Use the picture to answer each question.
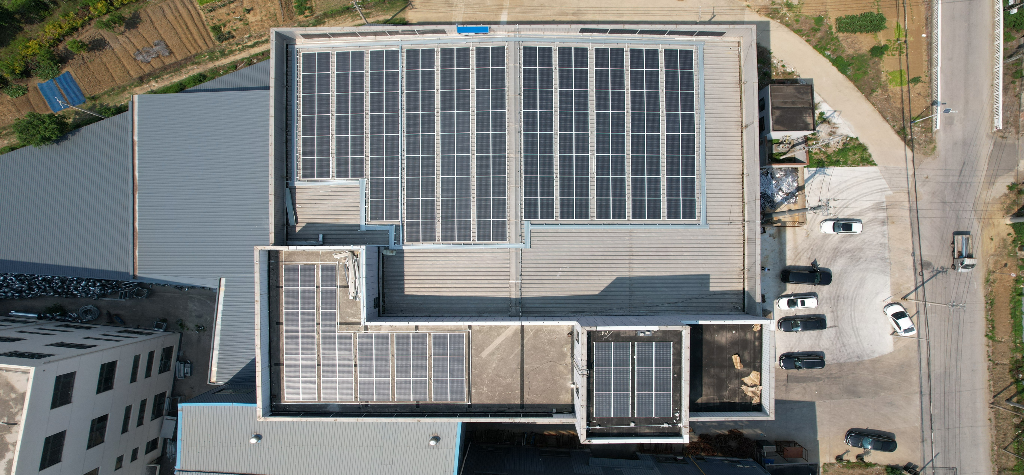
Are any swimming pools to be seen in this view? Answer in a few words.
No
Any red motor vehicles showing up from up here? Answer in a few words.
No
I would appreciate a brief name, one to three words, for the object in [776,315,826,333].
car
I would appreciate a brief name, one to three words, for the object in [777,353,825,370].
car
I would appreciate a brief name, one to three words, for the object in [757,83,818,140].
house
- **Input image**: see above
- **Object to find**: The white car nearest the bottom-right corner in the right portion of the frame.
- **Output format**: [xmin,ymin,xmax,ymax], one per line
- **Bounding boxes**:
[882,303,918,338]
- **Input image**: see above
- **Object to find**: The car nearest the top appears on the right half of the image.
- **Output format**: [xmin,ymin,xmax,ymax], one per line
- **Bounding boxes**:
[817,219,863,235]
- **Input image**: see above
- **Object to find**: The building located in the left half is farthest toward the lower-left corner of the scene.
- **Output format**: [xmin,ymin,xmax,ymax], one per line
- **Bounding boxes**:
[0,323,181,475]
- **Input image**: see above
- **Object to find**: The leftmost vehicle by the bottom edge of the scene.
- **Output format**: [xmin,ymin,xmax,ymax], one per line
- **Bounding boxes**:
[844,432,896,453]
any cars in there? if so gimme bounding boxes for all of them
[817,219,863,235]
[844,432,896,453]
[882,303,918,338]
[775,295,819,311]
[776,315,826,333]
[777,353,825,370]
[780,260,832,284]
